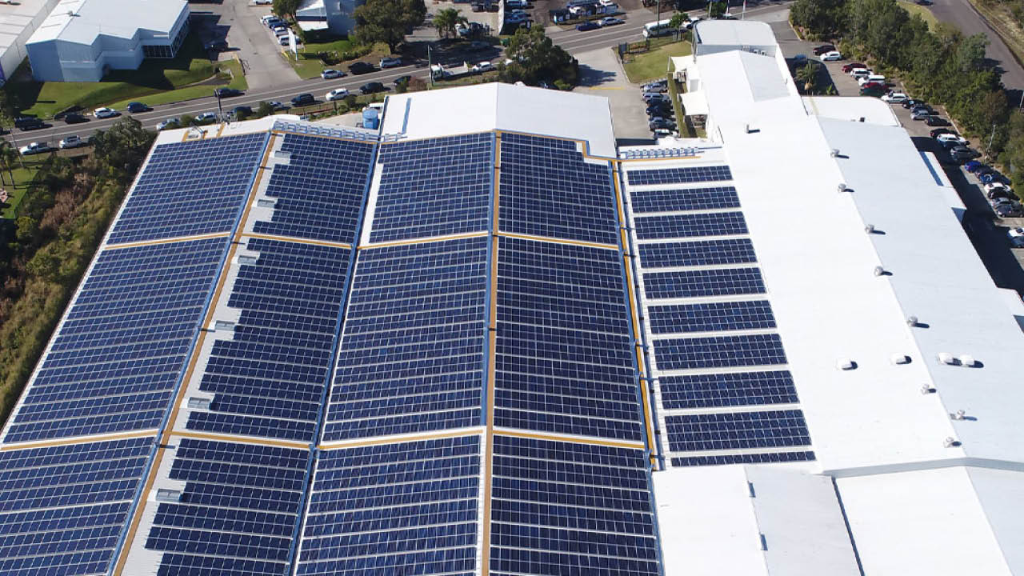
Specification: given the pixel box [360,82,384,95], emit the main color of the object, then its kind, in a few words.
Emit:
black vehicle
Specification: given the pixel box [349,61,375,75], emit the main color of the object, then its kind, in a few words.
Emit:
black car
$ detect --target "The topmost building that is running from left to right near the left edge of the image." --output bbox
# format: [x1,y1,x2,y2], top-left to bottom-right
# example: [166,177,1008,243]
[23,0,210,77]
